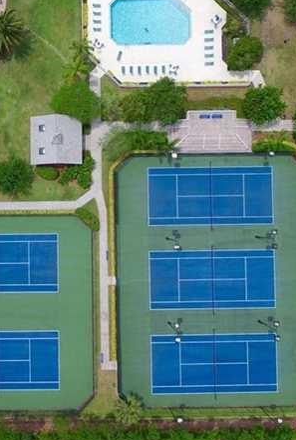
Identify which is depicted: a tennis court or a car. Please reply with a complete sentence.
Visible in the photo is a tennis court.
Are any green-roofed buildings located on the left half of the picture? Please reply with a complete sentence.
No, no green-roofed building can be made out on the left half of the picture.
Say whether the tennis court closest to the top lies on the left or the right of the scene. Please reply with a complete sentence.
It is on the right.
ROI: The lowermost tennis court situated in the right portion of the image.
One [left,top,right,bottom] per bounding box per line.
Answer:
[119,323,296,407]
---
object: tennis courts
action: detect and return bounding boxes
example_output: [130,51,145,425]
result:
[119,323,296,407]
[0,313,93,410]
[118,238,296,323]
[116,156,296,238]
[0,213,92,313]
